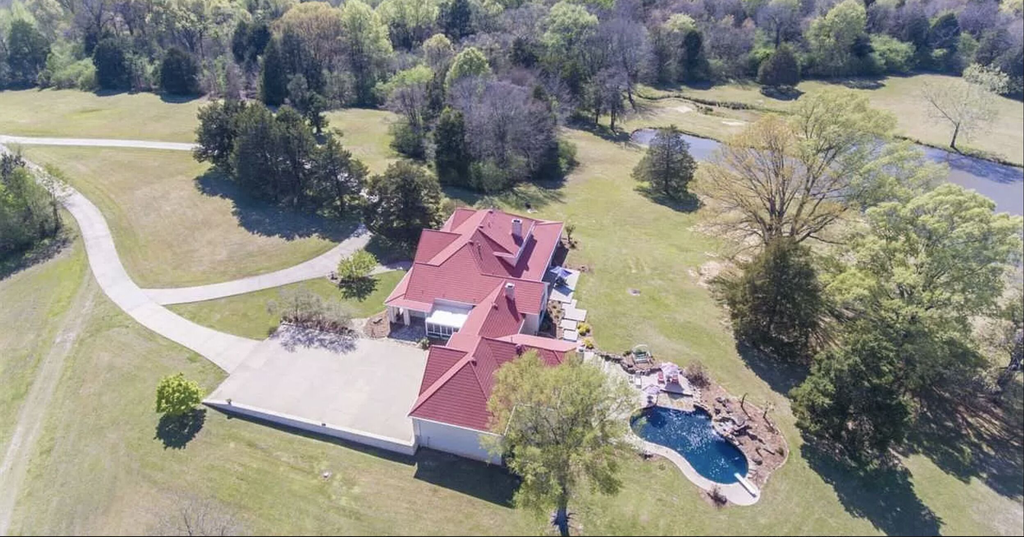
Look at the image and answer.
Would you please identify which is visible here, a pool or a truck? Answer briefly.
pool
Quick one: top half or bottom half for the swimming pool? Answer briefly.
bottom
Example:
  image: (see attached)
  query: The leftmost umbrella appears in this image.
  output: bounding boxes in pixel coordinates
[551,268,572,287]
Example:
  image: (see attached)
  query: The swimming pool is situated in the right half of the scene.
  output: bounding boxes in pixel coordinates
[628,402,750,485]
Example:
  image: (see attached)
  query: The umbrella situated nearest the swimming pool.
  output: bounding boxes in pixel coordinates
[642,382,662,402]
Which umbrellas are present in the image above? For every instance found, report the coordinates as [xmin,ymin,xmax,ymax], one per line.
[661,361,683,382]
[642,382,662,402]
[551,268,572,287]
